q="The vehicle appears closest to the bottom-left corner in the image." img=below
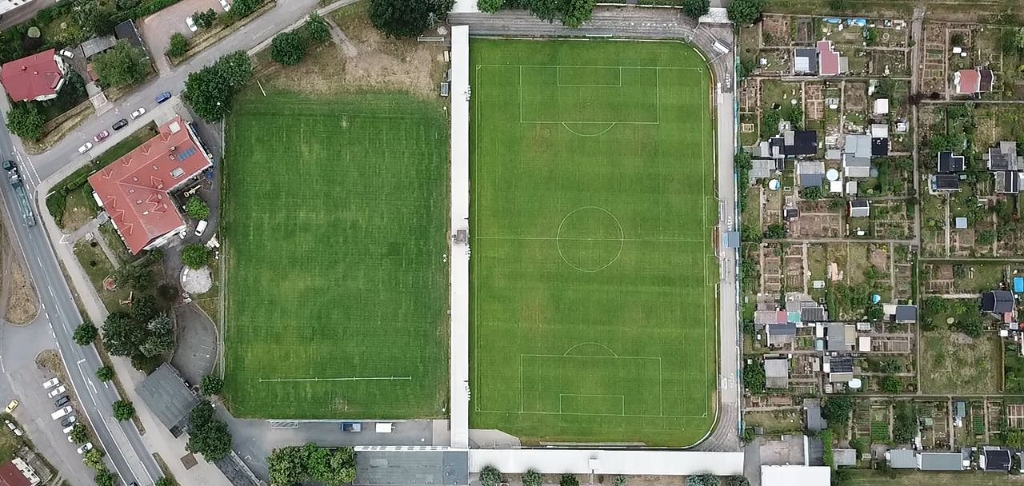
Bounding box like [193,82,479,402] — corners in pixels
[5,421,22,436]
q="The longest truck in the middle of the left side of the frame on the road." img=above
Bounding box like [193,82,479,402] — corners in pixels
[3,163,36,228]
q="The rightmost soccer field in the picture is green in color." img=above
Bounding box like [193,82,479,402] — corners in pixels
[469,38,719,448]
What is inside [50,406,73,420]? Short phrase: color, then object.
white vehicle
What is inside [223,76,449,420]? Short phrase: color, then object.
green soccer field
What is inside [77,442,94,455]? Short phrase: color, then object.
white vehicle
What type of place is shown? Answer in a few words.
sports ground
